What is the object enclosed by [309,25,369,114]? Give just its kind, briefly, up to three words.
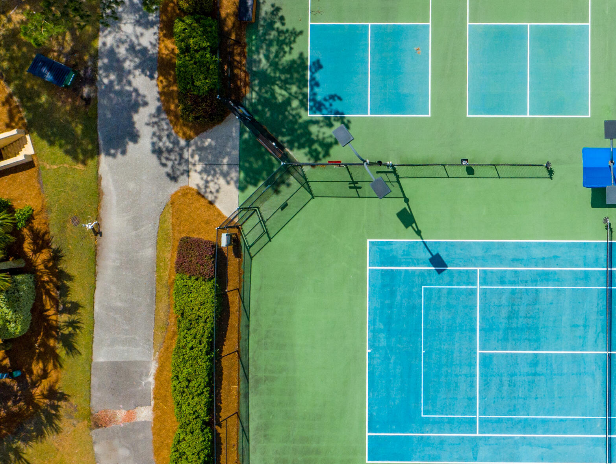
sports court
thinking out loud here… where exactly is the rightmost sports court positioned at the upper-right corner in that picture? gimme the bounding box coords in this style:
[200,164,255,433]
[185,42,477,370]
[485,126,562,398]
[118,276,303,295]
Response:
[529,25,588,115]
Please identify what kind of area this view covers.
sports ground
